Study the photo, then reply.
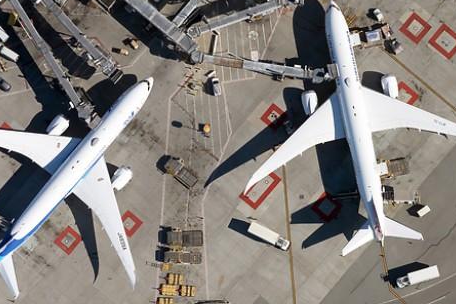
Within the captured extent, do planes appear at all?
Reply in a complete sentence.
Yes, a plane can be made out from above.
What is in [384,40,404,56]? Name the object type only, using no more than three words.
work vehicle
